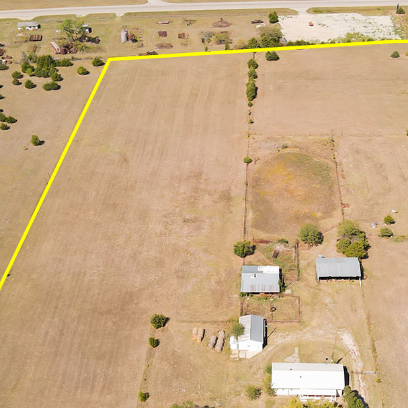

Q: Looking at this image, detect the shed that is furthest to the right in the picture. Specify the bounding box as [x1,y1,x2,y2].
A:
[317,258,360,287]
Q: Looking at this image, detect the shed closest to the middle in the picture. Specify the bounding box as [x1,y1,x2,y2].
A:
[240,266,280,298]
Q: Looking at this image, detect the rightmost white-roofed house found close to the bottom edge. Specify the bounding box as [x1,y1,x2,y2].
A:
[271,363,345,404]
